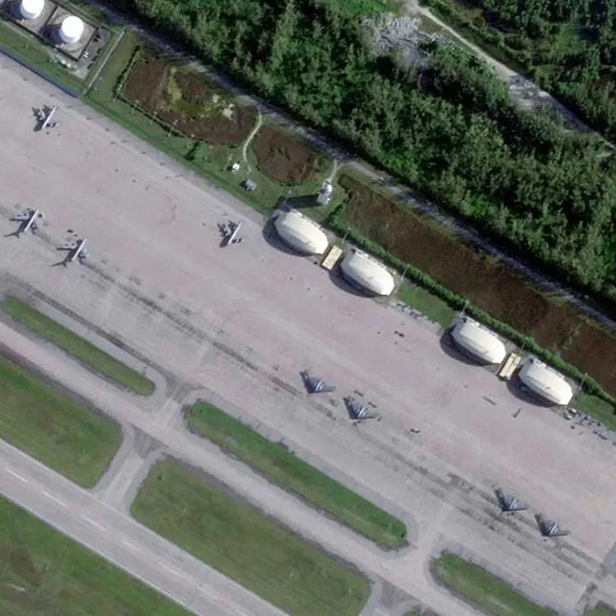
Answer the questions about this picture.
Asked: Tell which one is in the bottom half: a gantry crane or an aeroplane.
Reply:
aeroplane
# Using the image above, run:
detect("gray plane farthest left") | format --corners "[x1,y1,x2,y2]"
[10,209,41,237]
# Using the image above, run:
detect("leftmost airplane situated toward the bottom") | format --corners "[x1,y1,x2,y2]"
[303,371,336,392]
